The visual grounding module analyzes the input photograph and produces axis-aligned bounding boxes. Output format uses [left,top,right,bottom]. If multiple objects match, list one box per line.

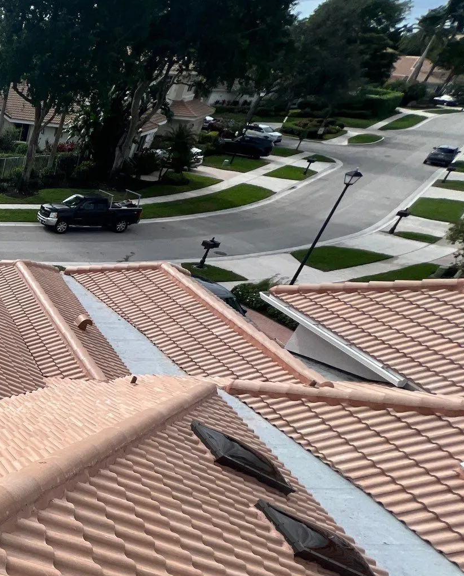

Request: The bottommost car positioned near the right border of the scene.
[423,139,460,163]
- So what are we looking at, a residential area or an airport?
residential area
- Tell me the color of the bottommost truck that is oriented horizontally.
black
